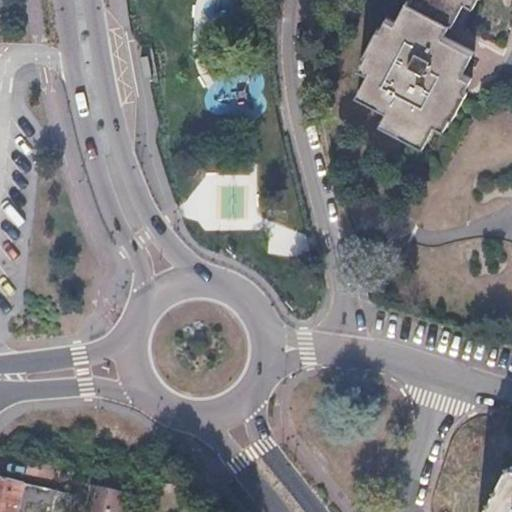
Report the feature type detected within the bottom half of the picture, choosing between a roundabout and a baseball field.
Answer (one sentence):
The one visible within the bottom half of the picture is a roundabout.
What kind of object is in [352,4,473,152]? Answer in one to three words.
building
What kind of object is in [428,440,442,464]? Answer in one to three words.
vehicle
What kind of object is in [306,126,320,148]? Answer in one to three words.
car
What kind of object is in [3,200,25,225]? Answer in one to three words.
vehicle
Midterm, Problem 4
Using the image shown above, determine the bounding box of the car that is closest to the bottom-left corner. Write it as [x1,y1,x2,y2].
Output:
[6,462,27,474]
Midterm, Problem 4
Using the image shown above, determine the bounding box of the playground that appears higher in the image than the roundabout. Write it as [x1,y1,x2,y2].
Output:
[205,74,268,118]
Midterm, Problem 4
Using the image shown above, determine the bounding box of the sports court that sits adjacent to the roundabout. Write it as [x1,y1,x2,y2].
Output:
[180,164,264,230]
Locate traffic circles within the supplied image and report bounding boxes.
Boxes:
[111,261,283,437]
